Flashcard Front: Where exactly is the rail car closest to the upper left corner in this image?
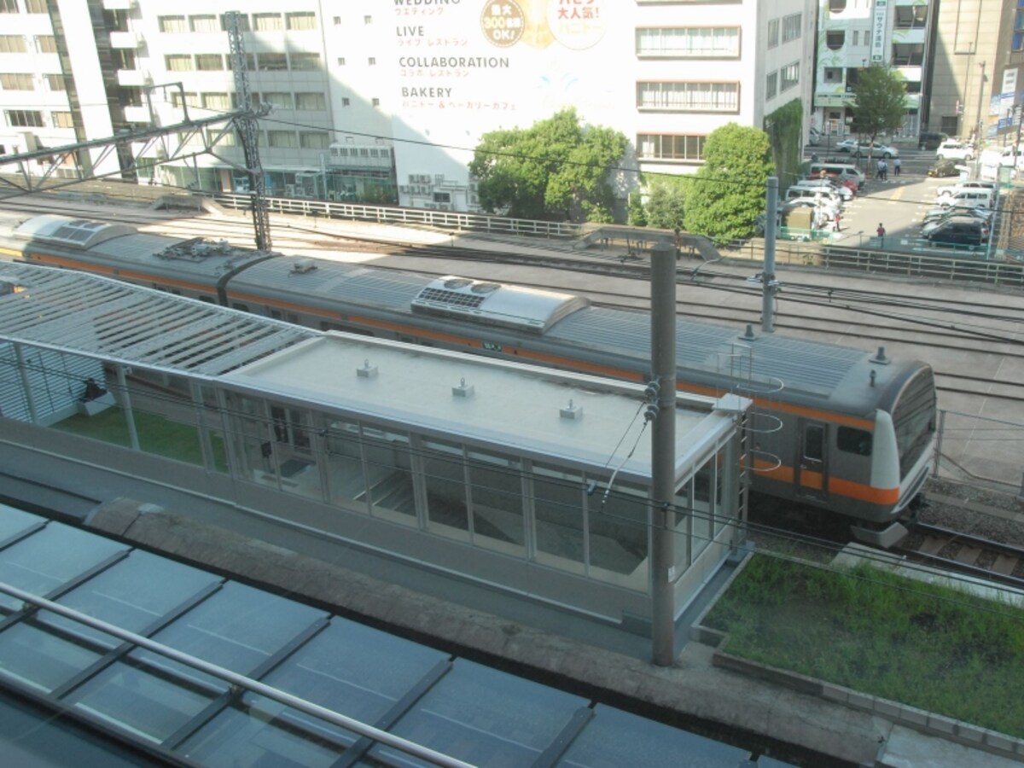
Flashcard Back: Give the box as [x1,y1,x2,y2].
[0,219,274,365]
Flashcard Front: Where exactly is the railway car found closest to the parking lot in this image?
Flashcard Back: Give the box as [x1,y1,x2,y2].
[218,257,948,549]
